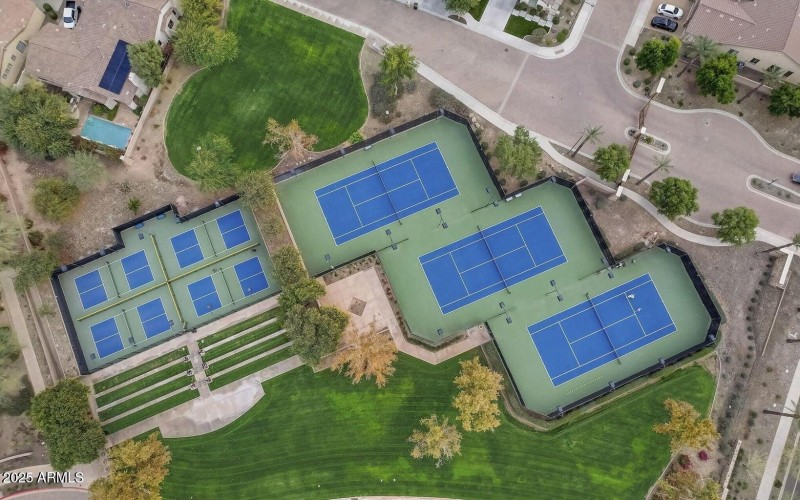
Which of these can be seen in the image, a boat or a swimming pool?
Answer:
swimming pool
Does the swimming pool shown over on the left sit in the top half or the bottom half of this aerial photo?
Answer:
top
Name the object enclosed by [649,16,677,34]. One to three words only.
car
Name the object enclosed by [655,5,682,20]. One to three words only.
car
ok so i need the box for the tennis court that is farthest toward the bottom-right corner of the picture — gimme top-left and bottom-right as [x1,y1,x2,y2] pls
[486,247,710,415]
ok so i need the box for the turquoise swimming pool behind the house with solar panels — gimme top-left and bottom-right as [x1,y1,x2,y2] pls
[80,115,132,149]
